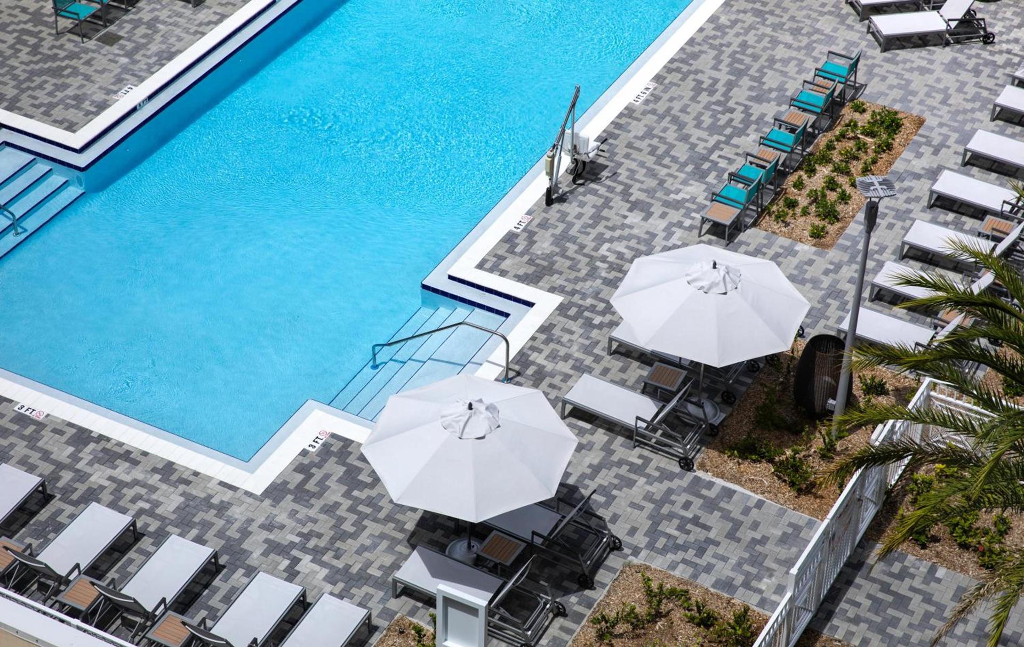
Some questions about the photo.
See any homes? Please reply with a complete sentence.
No, the picture doesn't show any home.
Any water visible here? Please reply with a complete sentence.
Yes, water shows up in the scene.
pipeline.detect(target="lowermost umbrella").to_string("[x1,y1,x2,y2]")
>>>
[359,375,581,565]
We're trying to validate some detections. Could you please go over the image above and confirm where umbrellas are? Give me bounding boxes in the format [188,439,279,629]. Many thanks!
[359,375,581,565]
[608,244,811,416]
